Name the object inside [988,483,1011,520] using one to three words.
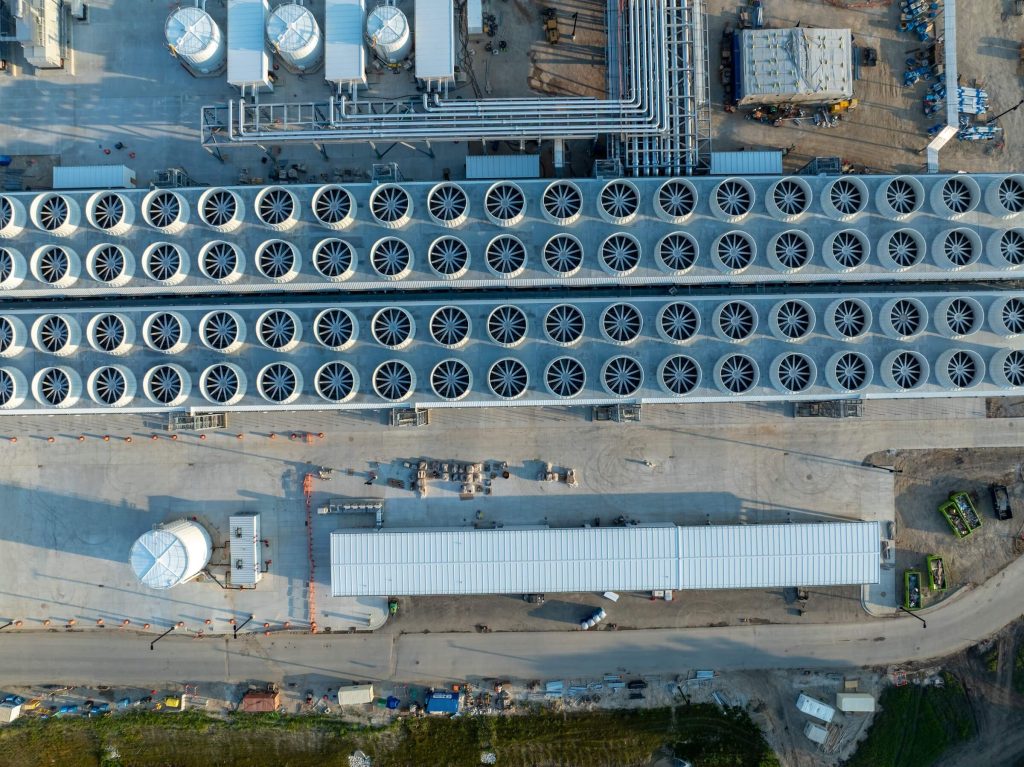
truck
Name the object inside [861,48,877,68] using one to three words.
work vehicle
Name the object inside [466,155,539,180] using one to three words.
shed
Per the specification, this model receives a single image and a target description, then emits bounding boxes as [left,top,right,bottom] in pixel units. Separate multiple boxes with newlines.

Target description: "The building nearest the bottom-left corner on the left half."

[230,513,263,585]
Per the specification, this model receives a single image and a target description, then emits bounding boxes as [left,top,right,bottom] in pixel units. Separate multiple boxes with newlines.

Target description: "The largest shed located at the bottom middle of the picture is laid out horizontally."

[330,519,881,597]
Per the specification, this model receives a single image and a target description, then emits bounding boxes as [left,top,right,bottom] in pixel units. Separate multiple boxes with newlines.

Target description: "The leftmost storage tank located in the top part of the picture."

[161,2,228,74]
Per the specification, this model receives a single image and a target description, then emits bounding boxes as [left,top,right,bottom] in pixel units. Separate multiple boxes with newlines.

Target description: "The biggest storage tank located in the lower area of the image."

[128,517,215,590]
